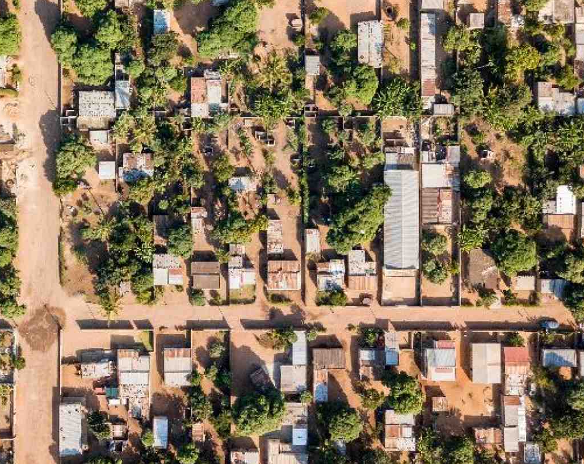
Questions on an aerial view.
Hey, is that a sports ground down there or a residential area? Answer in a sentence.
This looks like a residential area.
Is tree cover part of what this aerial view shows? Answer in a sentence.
Yes, there's tree cover in this view.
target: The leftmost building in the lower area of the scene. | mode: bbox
[59,403,83,455]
